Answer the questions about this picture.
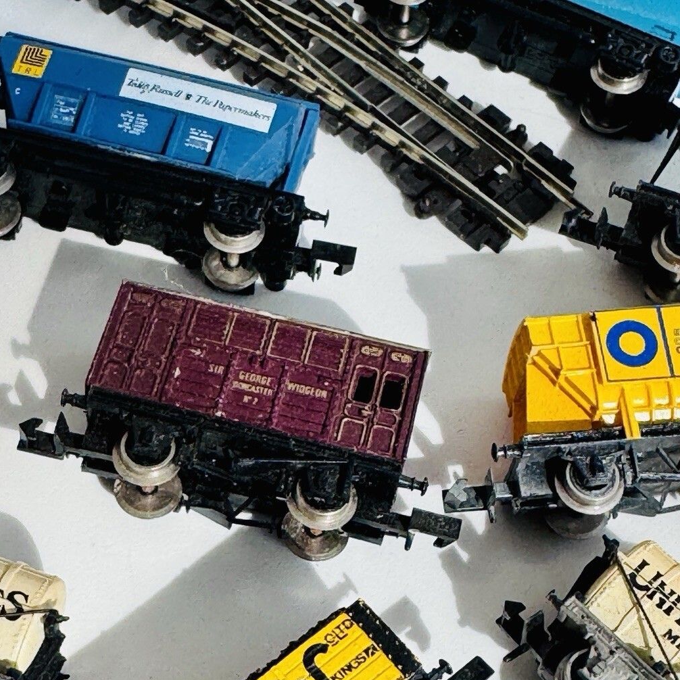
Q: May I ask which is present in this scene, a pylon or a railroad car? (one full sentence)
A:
I can see a railroad car in this picture.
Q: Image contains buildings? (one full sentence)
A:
No, I can't see a single building in this photo.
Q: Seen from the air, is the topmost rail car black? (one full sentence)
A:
Yes, the topmost rail car is indeed black.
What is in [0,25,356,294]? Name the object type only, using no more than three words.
rail car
